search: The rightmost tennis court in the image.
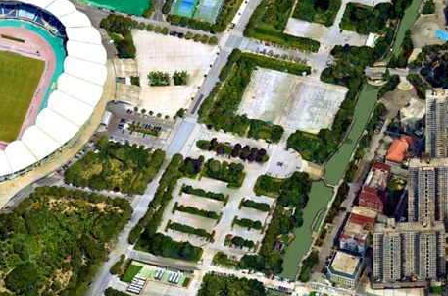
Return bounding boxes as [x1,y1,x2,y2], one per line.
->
[193,0,224,23]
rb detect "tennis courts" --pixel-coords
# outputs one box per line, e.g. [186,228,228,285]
[193,0,224,23]
[170,0,199,19]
